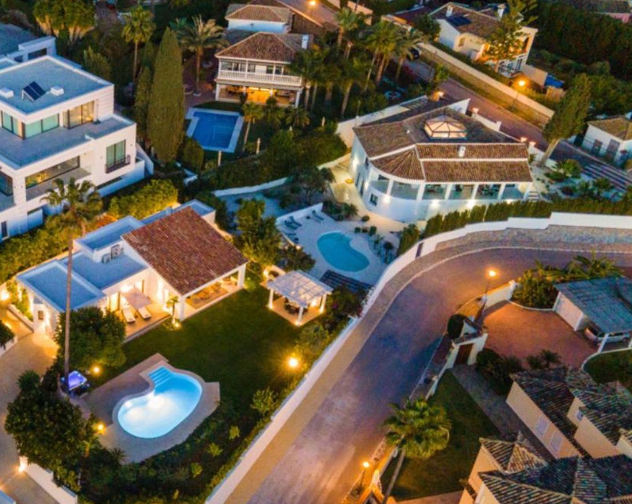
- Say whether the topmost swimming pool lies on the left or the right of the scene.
left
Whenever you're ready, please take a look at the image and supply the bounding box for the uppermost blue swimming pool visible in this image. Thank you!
[193,112,237,148]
